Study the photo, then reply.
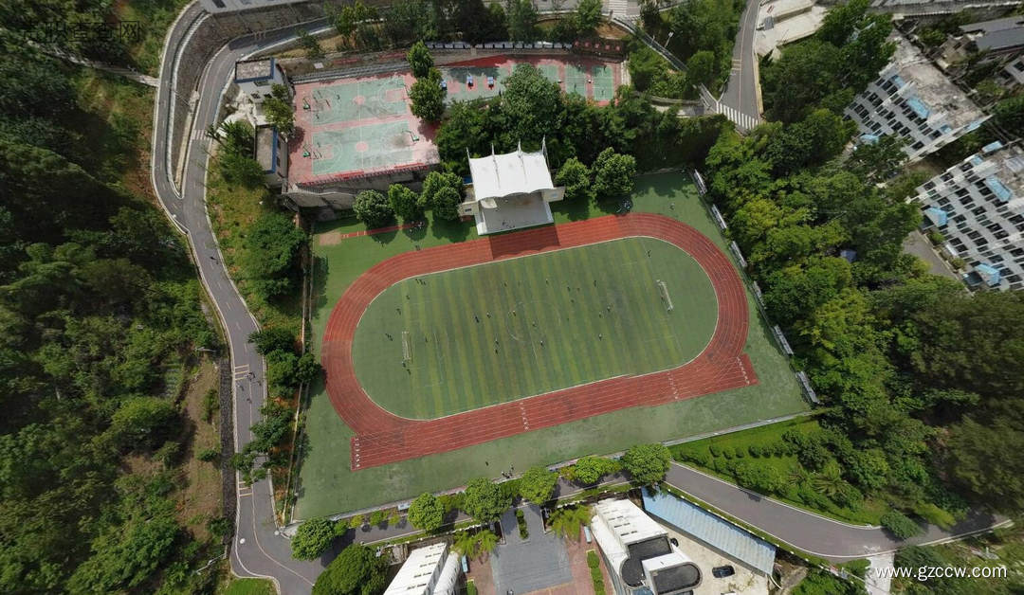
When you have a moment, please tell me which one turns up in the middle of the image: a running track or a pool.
running track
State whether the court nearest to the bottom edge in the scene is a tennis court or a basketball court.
basketball court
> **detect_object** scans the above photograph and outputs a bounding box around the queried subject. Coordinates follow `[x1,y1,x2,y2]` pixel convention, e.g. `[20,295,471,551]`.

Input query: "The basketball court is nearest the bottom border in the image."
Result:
[312,120,413,175]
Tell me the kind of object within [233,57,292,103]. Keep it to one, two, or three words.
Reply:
house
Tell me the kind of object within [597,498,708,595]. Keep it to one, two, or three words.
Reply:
building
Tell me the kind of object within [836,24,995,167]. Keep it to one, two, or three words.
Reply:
building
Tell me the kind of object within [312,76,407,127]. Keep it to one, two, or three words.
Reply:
basketball court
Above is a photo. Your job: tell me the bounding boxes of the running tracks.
[321,212,761,471]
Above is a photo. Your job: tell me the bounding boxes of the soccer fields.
[352,237,718,419]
